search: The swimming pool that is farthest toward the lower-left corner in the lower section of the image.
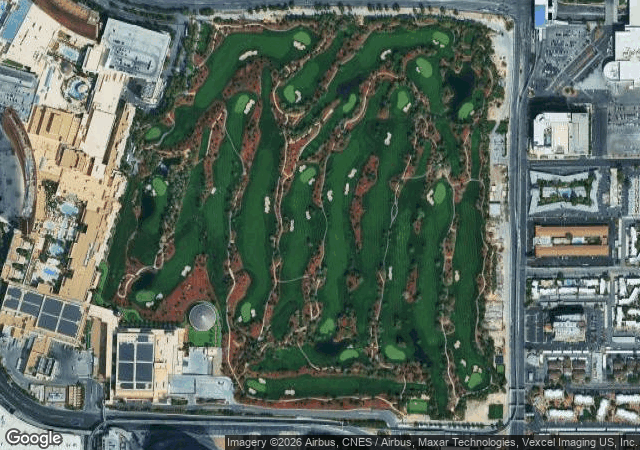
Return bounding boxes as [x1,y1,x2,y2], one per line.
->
[34,258,60,286]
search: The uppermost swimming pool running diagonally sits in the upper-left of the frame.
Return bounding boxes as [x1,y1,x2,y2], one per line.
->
[1,0,32,41]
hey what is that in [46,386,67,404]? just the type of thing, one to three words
building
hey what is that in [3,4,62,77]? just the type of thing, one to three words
building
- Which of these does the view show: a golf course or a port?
golf course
